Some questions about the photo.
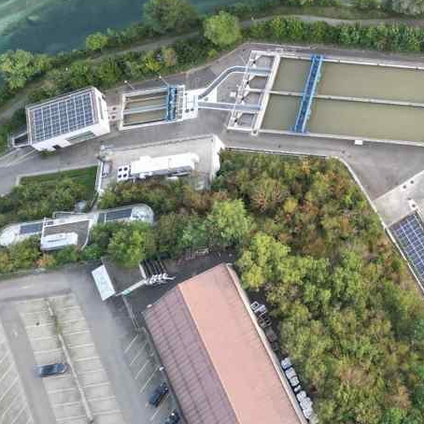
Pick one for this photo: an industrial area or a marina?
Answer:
industrial area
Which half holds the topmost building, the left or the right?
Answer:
left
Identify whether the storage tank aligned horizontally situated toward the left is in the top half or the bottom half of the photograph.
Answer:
top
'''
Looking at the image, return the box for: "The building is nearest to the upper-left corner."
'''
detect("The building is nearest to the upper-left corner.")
[24,85,110,151]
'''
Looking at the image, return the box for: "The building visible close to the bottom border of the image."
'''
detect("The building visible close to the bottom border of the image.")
[142,262,323,424]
